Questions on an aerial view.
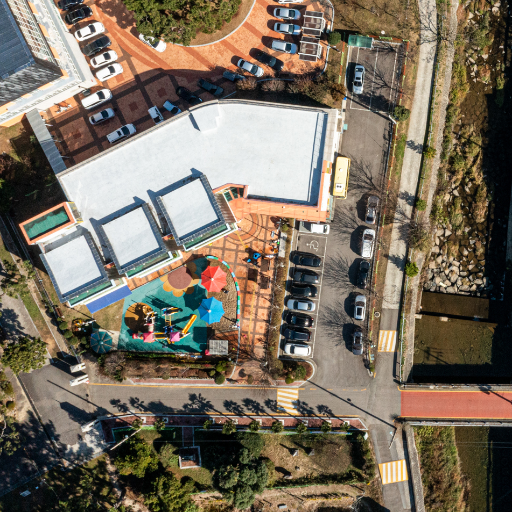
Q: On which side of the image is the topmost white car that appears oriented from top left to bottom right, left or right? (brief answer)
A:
left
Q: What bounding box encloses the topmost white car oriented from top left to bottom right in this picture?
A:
[137,30,167,54]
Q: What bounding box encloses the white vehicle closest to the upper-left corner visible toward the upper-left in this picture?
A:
[75,23,105,41]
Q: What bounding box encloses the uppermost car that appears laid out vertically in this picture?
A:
[351,64,366,94]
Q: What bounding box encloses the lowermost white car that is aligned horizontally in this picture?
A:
[284,343,313,356]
